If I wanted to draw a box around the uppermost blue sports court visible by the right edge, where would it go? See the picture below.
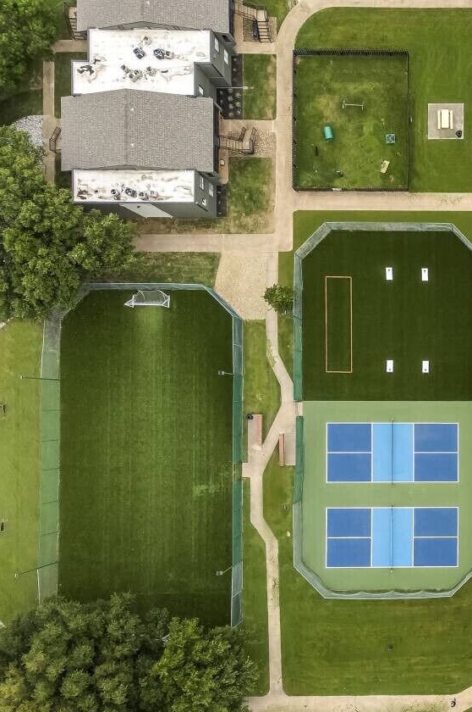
[327,423,459,482]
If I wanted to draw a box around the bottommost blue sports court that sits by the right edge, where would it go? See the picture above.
[327,508,459,568]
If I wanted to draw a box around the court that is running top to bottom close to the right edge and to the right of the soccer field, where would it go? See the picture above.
[304,230,472,590]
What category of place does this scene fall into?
sports ground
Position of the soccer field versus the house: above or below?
below it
